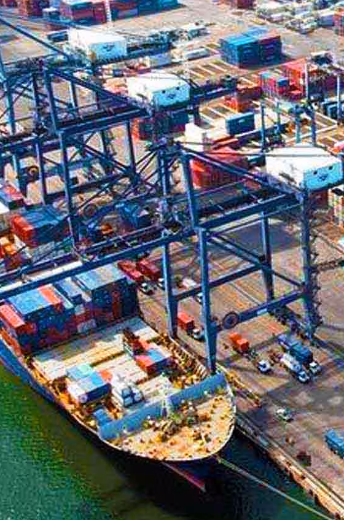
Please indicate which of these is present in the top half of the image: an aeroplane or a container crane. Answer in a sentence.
You can see a container crane in the top half of the image.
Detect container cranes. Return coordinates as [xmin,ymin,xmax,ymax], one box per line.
[0,135,344,373]
[297,60,344,125]
[0,61,227,248]
[274,100,327,152]
[0,25,167,202]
